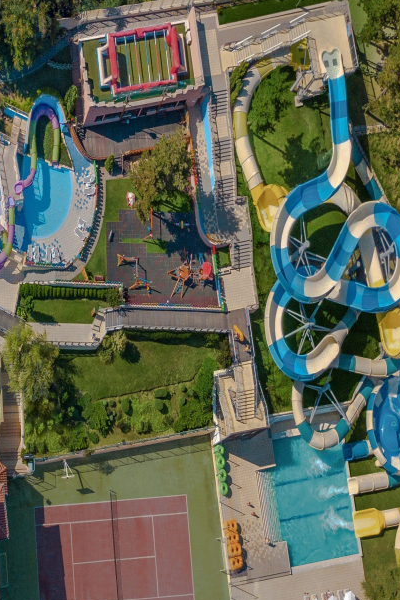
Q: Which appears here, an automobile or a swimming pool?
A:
swimming pool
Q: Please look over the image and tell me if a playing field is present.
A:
Yes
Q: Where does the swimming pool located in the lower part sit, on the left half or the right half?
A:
right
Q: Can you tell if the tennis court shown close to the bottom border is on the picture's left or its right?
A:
left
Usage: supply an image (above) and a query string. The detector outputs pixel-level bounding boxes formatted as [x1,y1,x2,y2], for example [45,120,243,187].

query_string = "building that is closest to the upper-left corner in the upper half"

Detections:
[70,6,206,122]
